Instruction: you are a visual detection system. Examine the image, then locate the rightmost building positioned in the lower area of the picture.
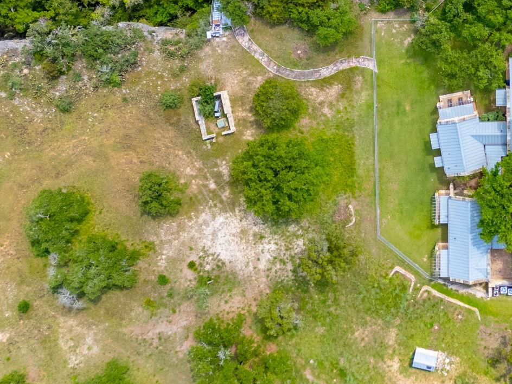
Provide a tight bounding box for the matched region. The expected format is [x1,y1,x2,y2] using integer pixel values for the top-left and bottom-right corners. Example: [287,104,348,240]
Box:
[440,185,512,296]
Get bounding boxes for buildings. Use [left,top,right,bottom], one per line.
[430,98,507,177]
[440,185,512,296]
[413,340,439,377]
